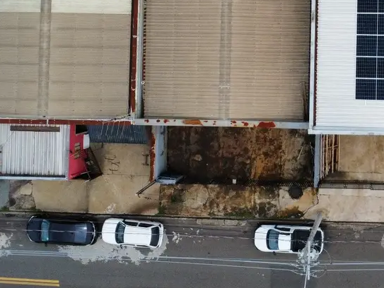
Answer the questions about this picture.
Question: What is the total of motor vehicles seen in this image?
3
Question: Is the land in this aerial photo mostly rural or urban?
urban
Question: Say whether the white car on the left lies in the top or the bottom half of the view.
bottom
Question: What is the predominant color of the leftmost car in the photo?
black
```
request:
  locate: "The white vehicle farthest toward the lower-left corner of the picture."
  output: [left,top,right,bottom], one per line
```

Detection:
[103,216,168,249]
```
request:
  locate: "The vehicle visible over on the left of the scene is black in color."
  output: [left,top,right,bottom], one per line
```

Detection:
[28,214,100,247]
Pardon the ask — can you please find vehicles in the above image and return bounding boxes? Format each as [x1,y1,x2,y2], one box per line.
[28,214,100,247]
[103,216,168,249]
[255,223,324,255]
